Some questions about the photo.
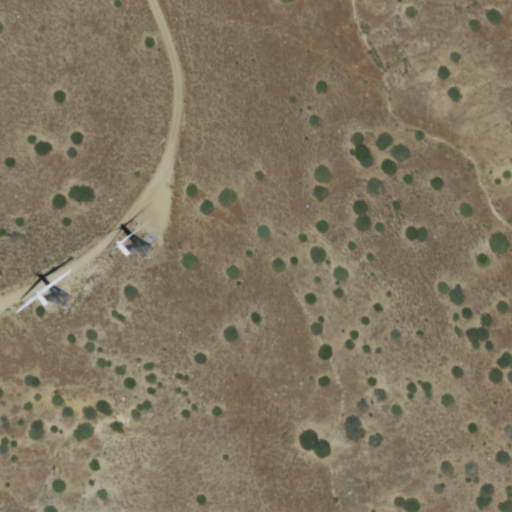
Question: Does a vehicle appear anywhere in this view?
No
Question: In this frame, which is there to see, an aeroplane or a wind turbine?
wind turbine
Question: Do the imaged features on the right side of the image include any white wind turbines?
No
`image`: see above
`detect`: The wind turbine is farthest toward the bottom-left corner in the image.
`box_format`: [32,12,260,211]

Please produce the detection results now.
[17,268,73,313]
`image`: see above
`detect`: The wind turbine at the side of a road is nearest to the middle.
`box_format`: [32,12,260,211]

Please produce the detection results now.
[100,218,153,258]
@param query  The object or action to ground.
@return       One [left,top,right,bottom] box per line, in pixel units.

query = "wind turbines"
[17,268,73,313]
[100,218,153,258]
